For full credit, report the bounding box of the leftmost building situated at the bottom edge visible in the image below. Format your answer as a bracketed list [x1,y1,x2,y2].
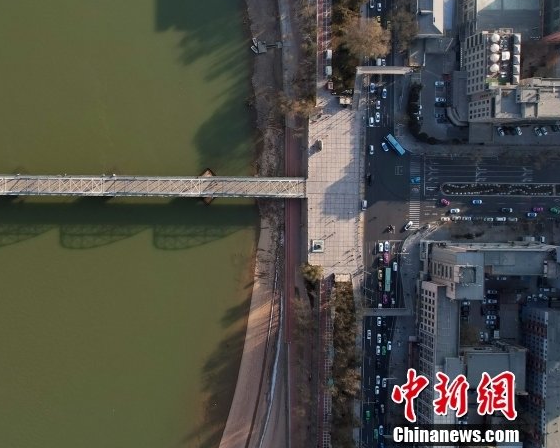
[417,278,466,448]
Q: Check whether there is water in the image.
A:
Yes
